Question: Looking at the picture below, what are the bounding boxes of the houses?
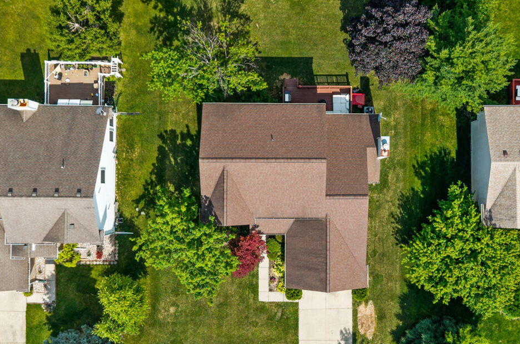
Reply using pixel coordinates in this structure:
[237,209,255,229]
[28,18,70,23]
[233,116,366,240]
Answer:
[471,104,520,233]
[0,93,141,294]
[198,102,389,297]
